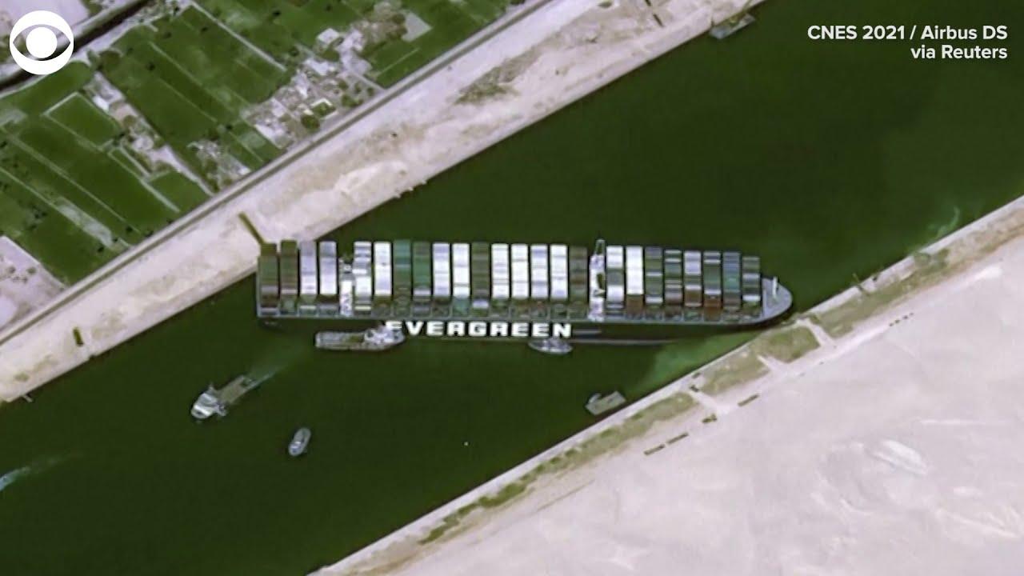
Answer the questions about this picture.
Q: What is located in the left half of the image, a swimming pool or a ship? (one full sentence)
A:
Visible in the left half of the image is a ship.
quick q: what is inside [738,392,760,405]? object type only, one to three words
vehicle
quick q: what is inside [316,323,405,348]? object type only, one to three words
ship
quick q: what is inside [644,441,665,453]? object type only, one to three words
vehicle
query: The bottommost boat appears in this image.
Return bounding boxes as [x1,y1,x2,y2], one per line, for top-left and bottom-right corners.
[291,429,310,456]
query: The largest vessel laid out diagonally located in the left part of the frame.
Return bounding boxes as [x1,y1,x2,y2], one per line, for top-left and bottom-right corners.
[190,372,255,420]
